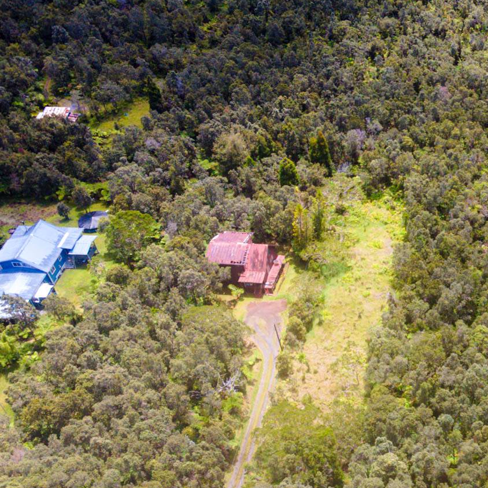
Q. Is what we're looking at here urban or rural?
rural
